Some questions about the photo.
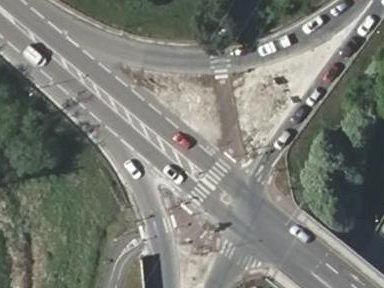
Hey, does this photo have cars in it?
Yes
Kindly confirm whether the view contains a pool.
No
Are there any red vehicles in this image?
Yes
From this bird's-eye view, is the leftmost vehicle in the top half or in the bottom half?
top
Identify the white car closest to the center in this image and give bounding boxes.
[163,165,184,184]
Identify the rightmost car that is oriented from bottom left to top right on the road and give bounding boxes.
[358,13,378,34]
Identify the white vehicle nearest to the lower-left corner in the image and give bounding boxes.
[124,160,142,180]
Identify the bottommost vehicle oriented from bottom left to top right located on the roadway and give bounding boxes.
[276,126,294,148]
